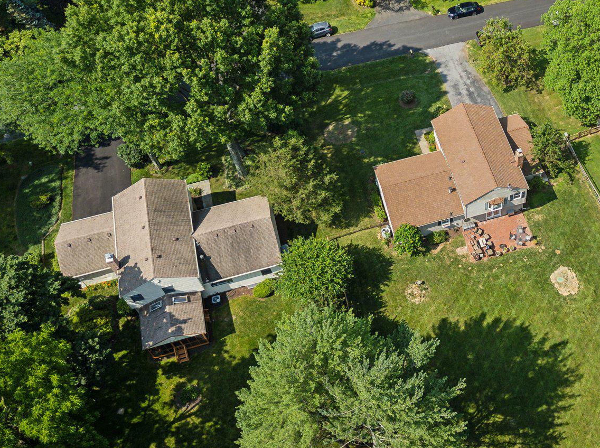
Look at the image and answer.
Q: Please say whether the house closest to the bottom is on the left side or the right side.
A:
left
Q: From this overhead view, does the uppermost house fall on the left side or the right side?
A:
right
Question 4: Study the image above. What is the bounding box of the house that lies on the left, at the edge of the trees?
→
[54,179,282,362]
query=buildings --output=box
[373,102,545,240]
[54,179,282,362]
